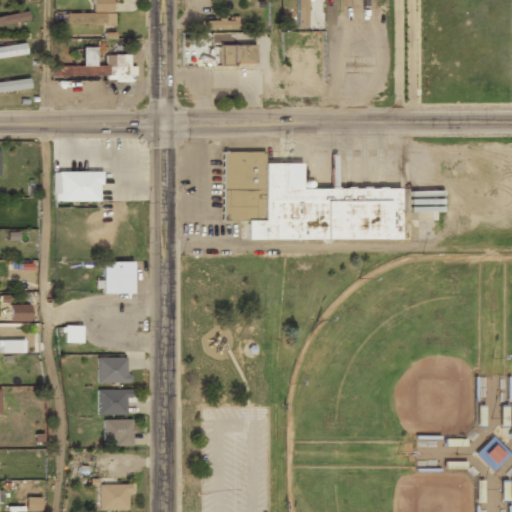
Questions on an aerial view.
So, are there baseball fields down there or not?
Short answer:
Yes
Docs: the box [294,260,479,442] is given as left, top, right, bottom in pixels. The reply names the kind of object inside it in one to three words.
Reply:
baseball field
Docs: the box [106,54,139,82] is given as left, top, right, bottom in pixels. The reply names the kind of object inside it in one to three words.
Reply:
building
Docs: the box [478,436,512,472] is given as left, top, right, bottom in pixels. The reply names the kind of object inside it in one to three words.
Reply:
building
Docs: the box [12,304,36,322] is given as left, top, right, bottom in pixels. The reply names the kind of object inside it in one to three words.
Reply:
house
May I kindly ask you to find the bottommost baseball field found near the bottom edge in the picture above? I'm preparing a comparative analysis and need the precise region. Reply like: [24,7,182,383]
[294,468,478,512]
